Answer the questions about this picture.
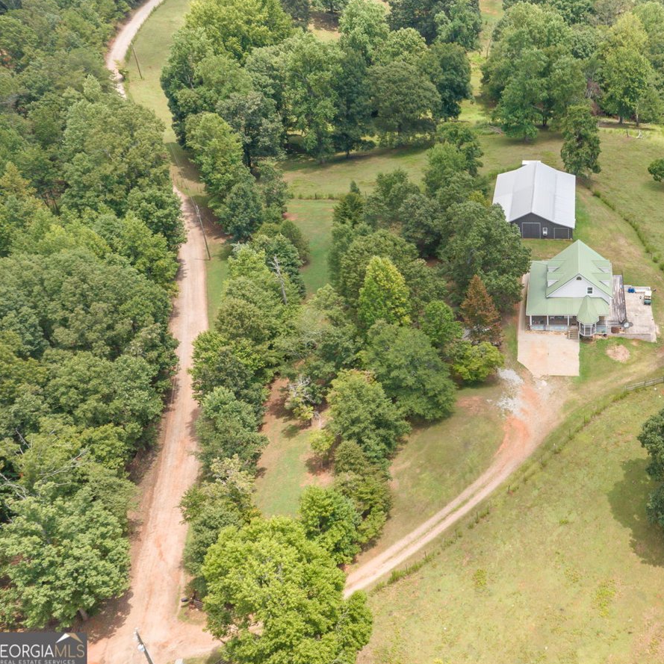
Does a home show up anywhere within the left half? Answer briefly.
No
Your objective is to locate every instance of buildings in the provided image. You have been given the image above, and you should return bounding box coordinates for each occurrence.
[490,159,575,239]
[524,238,611,334]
